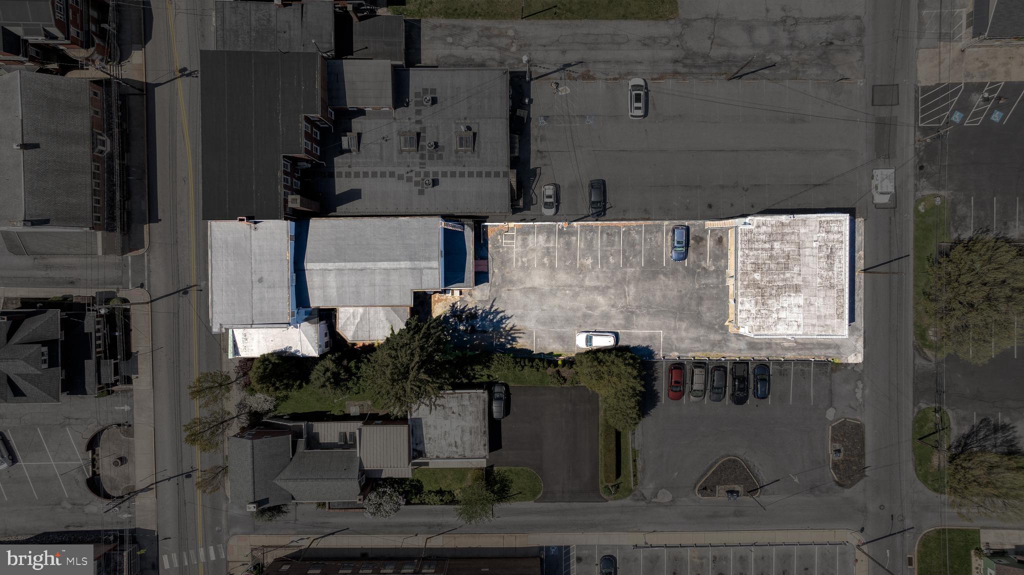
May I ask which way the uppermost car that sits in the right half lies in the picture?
from top to bottom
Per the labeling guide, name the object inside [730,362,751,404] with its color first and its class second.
black truck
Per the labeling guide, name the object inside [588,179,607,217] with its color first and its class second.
black car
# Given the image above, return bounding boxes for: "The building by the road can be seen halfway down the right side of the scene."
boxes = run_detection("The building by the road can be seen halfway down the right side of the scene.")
[728,214,850,341]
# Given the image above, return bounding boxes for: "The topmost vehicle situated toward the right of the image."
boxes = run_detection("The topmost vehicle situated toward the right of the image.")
[628,79,648,120]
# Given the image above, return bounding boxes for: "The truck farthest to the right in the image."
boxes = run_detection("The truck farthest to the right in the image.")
[871,167,898,208]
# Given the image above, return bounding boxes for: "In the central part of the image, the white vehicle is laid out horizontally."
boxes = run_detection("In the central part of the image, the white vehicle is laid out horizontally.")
[577,330,617,349]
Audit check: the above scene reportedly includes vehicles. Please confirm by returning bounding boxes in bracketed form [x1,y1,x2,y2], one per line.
[588,179,607,217]
[667,363,687,400]
[871,167,898,208]
[541,184,558,216]
[671,225,690,262]
[0,430,16,469]
[577,330,617,349]
[489,382,508,419]
[751,364,772,400]
[688,362,709,402]
[628,79,648,120]
[730,362,751,404]
[709,365,729,401]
